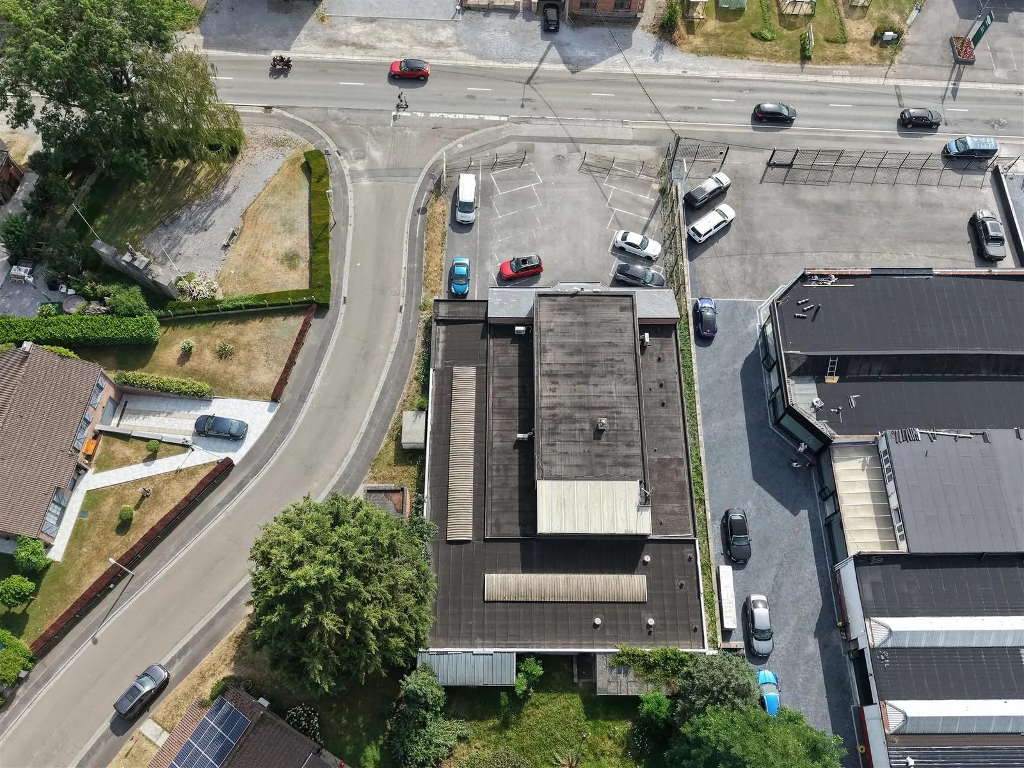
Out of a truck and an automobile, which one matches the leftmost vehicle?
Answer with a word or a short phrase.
automobile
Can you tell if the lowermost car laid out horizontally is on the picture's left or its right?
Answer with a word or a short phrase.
left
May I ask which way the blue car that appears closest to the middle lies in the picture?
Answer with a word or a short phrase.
vertically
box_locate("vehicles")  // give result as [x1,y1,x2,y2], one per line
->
[746,596,776,656]
[973,210,1005,258]
[695,298,718,337]
[756,667,782,716]
[542,3,560,30]
[752,102,796,125]
[615,262,664,285]
[449,258,470,298]
[499,254,544,280]
[115,666,168,717]
[725,509,753,563]
[682,173,732,210]
[899,105,942,129]
[687,205,737,244]
[942,131,1005,160]
[615,231,661,261]
[390,57,431,80]
[454,176,478,226]
[194,413,248,441]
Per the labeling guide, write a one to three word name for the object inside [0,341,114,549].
house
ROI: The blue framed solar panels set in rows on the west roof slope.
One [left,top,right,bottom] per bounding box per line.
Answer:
[170,695,251,768]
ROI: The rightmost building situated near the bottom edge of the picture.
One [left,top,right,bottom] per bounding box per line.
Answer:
[834,555,1024,768]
